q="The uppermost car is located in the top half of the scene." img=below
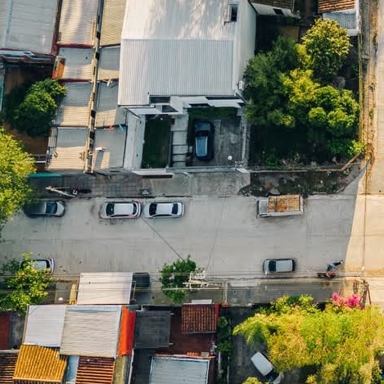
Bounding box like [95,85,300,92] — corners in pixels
[190,121,215,162]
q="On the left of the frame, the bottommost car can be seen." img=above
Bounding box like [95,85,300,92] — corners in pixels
[132,272,155,290]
